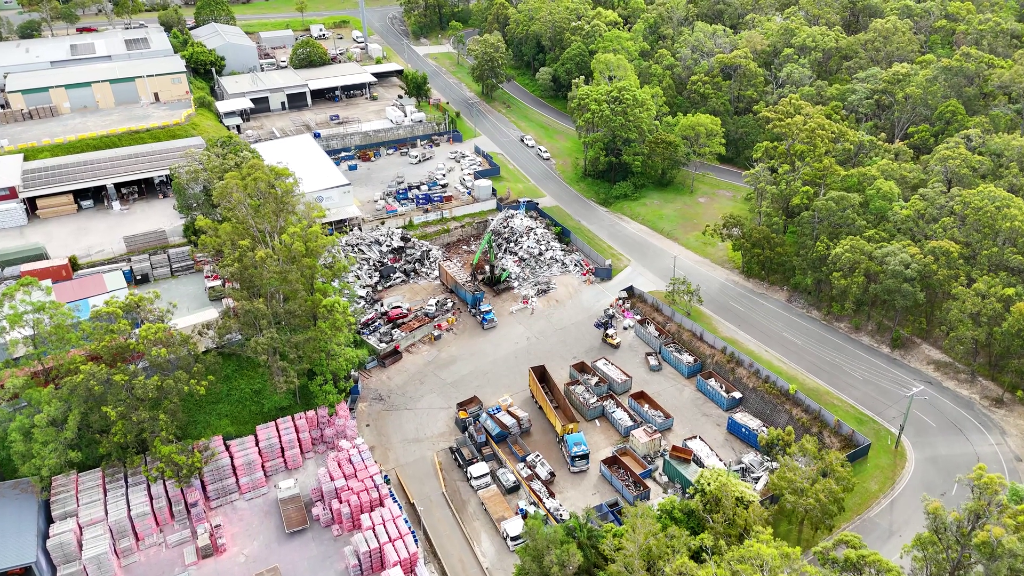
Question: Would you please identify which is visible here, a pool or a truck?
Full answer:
I can see a truck in this picture.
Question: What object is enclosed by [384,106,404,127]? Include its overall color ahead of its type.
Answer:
white vehicle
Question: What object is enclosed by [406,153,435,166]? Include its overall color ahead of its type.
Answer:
white vehicle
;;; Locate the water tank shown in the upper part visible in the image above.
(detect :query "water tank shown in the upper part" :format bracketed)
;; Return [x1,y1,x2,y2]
[472,178,493,203]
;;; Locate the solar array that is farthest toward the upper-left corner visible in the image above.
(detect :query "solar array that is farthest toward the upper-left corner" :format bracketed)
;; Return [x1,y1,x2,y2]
[70,41,96,55]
